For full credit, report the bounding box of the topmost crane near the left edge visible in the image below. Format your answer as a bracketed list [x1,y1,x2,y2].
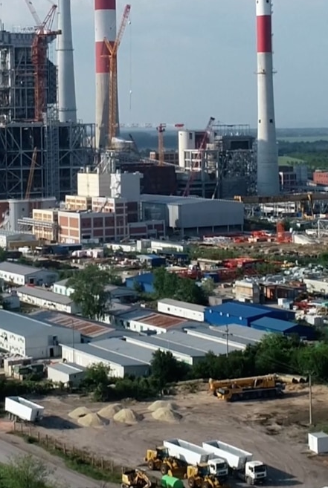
[0,0,62,121]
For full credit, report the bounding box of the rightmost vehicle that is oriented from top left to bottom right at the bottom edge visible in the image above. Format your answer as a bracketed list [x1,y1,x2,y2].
[197,439,267,488]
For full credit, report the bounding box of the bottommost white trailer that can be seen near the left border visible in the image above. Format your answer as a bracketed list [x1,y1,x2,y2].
[6,392,42,423]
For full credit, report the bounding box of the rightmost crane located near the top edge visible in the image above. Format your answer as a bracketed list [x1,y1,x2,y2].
[102,4,132,170]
